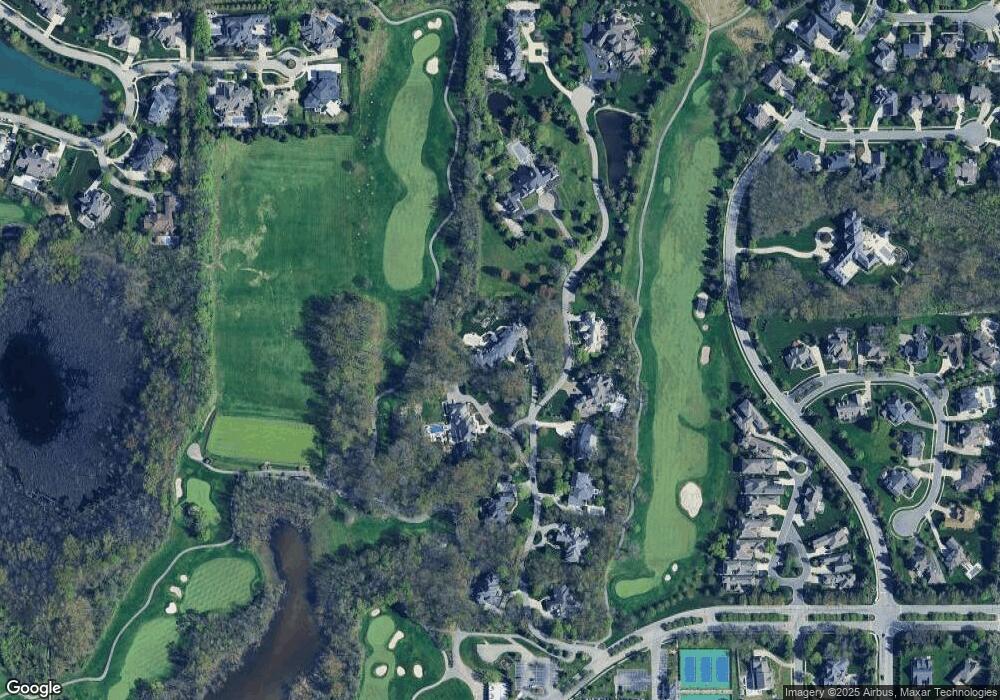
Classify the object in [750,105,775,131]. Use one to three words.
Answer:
house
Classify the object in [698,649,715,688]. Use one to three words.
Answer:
tennis court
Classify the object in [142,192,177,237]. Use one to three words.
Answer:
house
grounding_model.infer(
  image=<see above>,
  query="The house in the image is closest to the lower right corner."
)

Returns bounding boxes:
[950,660,982,690]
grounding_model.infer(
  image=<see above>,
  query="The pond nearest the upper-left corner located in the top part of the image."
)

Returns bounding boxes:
[0,42,104,123]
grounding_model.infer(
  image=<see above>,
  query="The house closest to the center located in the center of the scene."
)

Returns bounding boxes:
[473,317,530,374]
